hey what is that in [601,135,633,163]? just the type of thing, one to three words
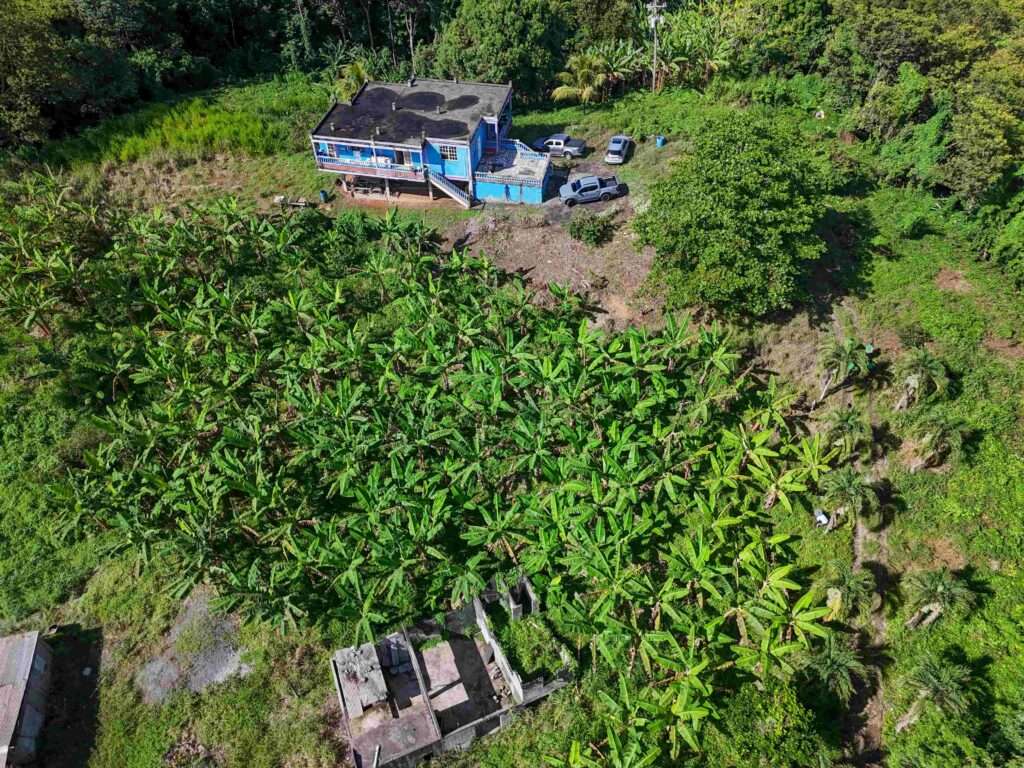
car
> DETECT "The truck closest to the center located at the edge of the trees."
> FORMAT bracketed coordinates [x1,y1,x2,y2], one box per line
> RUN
[556,175,626,209]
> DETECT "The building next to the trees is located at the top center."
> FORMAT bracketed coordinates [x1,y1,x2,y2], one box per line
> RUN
[310,74,552,213]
